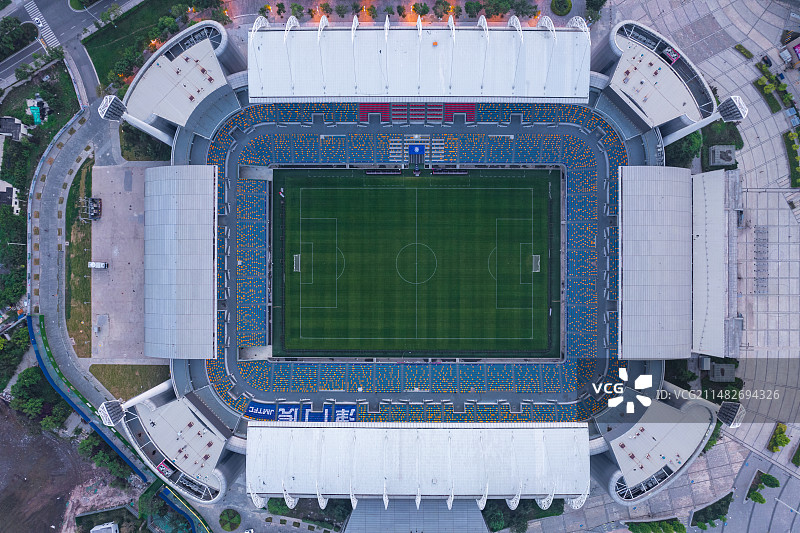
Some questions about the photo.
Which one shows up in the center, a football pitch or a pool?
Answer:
football pitch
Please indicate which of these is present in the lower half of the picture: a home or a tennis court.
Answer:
home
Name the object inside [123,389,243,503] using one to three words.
building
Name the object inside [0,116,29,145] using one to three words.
house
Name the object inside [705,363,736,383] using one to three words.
house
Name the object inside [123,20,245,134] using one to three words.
building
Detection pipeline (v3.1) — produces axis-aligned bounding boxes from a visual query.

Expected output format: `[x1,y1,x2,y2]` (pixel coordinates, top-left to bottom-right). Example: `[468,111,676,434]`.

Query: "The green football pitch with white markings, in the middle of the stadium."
[273,169,562,358]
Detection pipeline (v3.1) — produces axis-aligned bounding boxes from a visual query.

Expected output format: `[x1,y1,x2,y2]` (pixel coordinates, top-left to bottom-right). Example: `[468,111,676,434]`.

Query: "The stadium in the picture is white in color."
[145,20,743,533]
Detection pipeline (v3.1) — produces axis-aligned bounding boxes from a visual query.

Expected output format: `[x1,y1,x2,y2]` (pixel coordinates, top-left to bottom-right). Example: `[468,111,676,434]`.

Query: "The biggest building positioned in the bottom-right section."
[591,389,717,506]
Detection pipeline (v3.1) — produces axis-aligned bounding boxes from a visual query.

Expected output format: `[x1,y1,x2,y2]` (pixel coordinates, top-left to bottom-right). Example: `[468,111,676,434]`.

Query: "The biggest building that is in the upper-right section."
[591,20,716,134]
